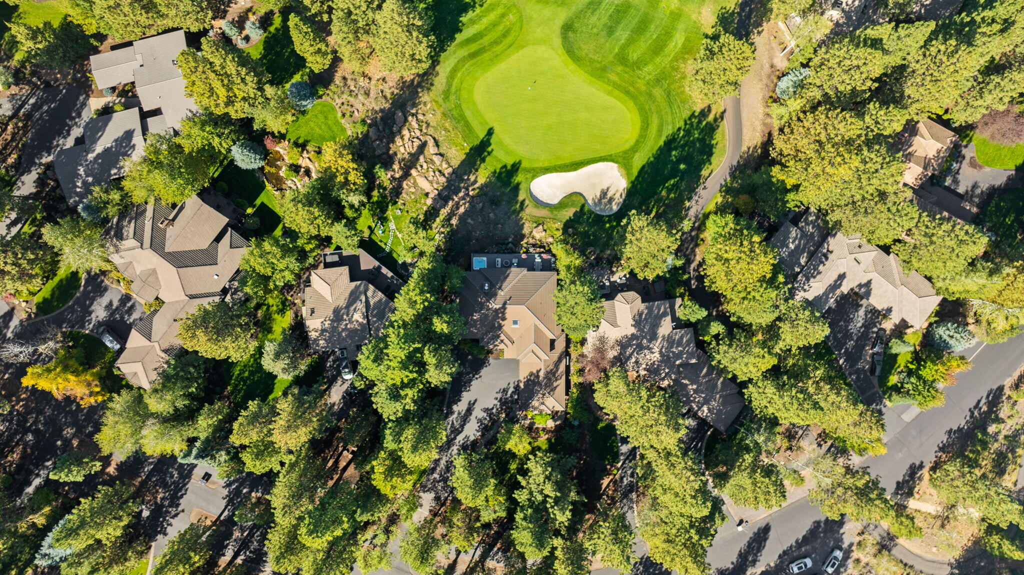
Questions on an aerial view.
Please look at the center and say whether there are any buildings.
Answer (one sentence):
Yes, you'll find a building at the center.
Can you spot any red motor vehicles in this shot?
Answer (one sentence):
No, there is no red motor vehicle in the image.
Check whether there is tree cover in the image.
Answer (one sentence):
Yes, some tree cover is visible.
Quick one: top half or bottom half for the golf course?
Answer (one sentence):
Seen from above, the golf course lies in the top half of the view.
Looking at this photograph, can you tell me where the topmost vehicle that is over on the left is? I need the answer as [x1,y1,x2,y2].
[94,327,120,352]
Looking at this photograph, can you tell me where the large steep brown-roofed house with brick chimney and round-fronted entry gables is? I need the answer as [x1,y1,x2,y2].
[101,194,248,389]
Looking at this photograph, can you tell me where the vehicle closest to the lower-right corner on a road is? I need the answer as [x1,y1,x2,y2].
[823,551,844,575]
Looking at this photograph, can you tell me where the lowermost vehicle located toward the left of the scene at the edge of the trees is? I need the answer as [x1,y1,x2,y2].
[337,350,353,380]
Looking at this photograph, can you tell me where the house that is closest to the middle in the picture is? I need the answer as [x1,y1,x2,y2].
[460,268,566,414]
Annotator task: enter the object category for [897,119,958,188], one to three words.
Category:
house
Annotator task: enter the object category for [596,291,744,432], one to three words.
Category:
house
